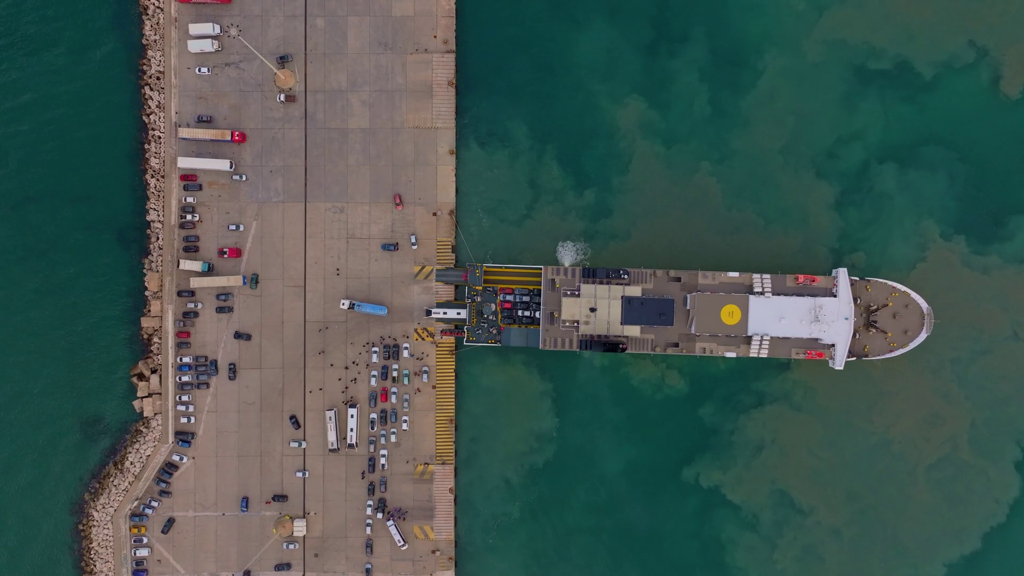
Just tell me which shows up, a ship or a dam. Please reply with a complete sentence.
Of the two, only a ship appears.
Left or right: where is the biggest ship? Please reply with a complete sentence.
The biggest ship appears in the right half of the scene.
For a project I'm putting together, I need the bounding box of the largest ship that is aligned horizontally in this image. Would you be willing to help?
[432,263,943,370]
